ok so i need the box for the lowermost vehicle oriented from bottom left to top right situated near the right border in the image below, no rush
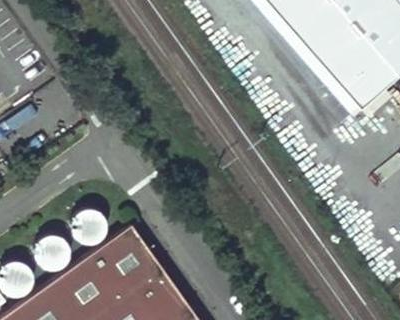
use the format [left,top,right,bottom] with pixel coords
[367,154,400,188]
